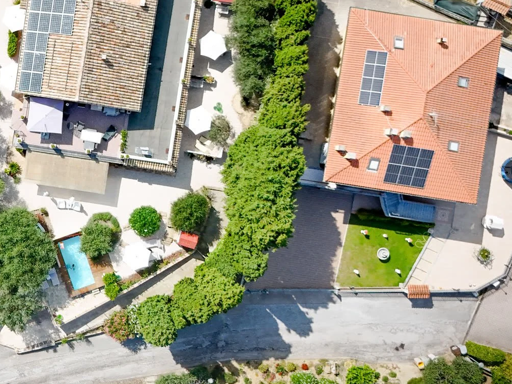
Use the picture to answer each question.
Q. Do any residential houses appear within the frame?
Yes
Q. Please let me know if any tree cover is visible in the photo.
Yes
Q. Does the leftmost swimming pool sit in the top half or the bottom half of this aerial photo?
bottom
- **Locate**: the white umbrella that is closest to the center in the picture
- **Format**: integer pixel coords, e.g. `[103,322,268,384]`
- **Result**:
[184,106,212,136]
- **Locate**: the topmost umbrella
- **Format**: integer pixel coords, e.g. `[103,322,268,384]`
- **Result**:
[2,6,25,32]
